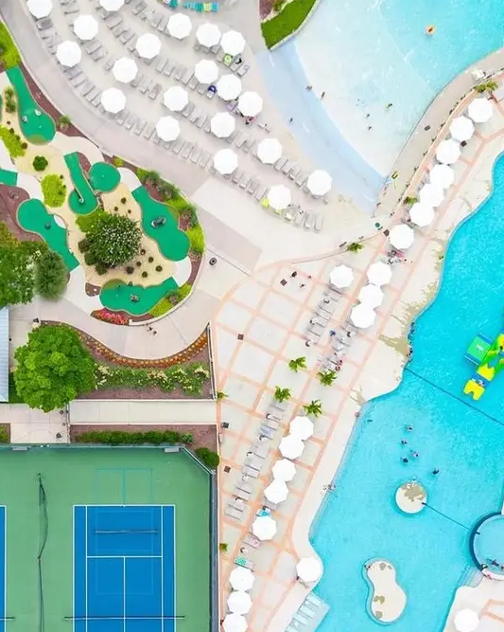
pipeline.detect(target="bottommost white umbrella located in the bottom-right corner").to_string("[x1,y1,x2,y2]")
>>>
[452,607,479,632]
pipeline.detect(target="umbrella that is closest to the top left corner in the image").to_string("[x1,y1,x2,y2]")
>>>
[26,0,52,18]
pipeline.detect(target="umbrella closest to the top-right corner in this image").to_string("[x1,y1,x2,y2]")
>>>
[466,97,492,123]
